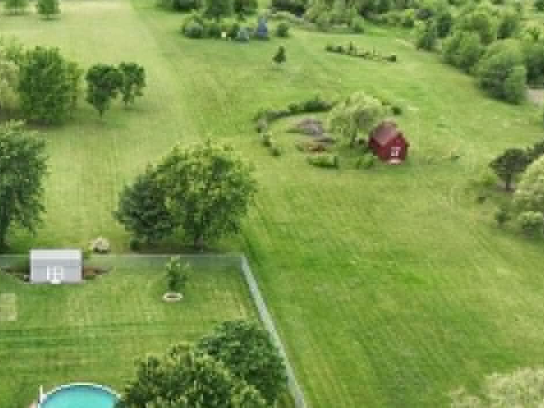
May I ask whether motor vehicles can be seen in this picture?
No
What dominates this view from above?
grass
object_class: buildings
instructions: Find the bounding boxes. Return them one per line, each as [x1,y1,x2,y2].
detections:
[370,123,412,163]
[30,248,84,287]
